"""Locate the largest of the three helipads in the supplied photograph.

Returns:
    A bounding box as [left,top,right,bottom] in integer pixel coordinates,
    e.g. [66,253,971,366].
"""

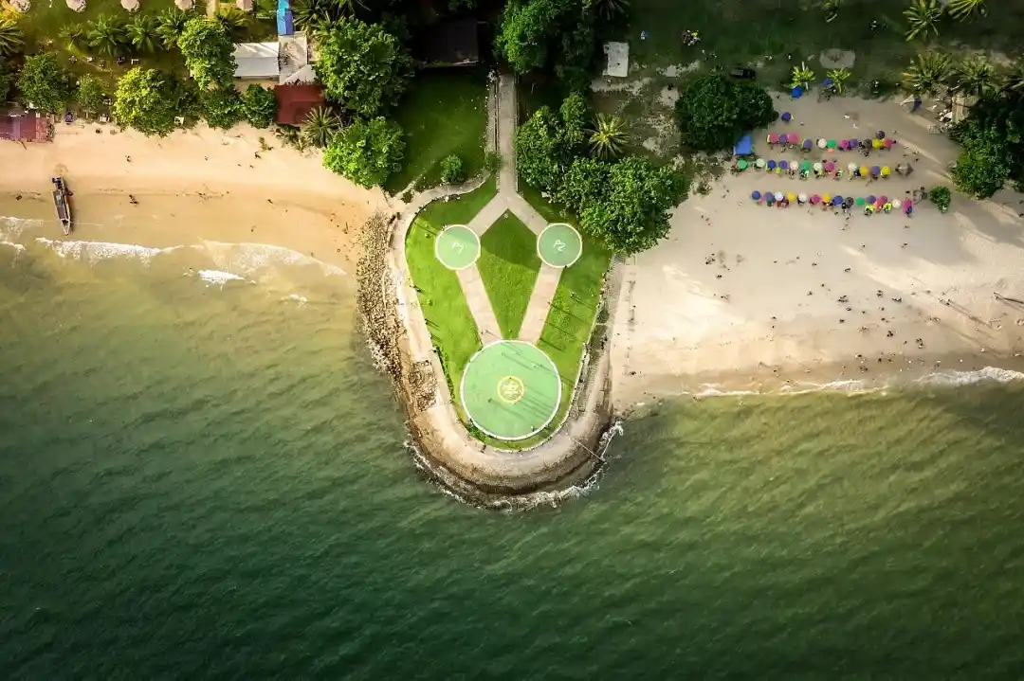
[461,340,561,441]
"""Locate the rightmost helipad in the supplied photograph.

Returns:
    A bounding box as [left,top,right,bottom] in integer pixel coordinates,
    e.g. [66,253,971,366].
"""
[537,222,582,267]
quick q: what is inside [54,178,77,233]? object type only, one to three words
boat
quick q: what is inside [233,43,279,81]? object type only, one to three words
house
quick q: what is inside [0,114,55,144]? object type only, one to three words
building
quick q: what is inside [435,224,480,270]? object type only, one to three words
helipad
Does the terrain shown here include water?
Yes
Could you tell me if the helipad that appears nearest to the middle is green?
Yes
